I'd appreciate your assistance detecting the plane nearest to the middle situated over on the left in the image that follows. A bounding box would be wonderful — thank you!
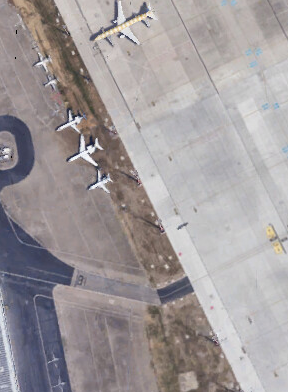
[90,171,115,194]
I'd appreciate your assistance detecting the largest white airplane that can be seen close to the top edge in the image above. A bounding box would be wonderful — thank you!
[95,1,156,43]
